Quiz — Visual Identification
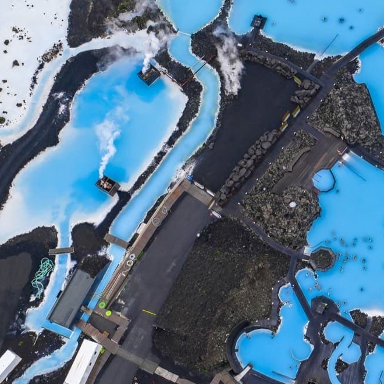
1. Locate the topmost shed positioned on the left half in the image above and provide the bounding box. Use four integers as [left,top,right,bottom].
[47,268,99,331]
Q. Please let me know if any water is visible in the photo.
Yes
